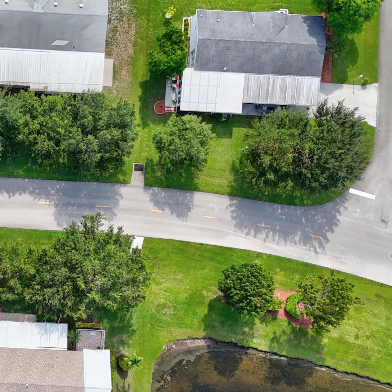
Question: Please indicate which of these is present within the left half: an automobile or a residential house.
residential house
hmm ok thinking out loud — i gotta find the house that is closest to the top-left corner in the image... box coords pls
[0,0,110,93]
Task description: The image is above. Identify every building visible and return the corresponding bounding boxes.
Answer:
[0,0,110,93]
[179,9,326,114]
[0,320,113,392]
